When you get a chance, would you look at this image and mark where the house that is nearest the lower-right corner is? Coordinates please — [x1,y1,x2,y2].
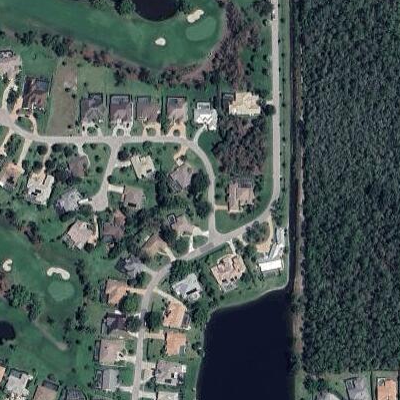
[377,376,397,400]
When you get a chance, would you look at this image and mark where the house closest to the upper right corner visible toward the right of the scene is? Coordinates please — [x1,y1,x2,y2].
[227,91,260,115]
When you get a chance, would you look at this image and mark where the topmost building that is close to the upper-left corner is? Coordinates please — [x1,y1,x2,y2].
[0,50,21,78]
